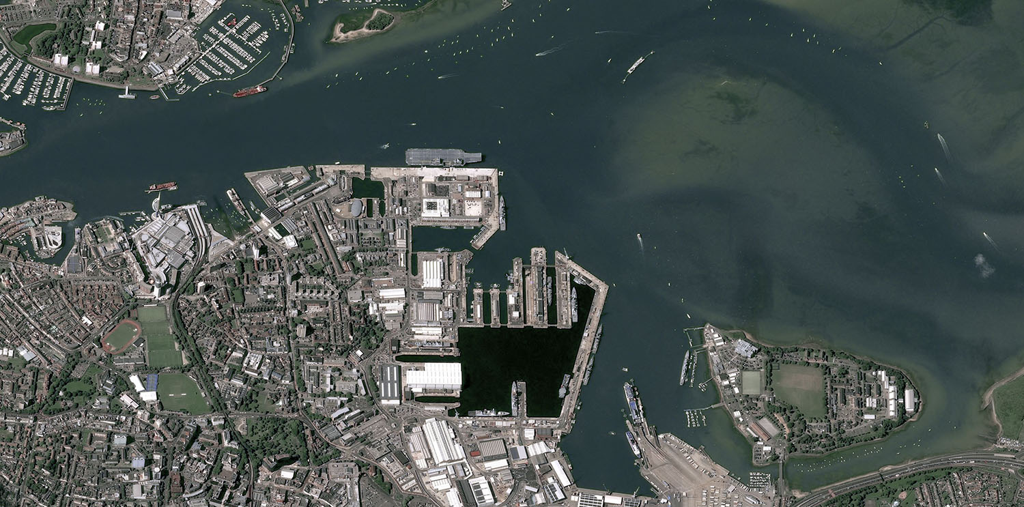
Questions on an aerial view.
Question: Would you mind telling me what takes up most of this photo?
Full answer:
What you mostly see from above here is water.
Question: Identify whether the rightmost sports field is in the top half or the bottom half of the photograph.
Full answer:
It is in the bottom half that the rightmost sports field appears.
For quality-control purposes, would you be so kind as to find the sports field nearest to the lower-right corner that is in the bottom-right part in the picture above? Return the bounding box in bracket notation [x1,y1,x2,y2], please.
[772,364,826,418]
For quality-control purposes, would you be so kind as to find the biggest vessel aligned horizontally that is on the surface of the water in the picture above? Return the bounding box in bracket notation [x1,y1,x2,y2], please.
[406,148,482,167]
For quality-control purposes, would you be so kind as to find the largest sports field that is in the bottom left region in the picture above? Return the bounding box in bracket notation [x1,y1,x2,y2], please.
[158,373,210,414]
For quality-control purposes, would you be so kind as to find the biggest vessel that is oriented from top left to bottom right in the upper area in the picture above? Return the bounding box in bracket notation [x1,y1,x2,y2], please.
[227,190,245,215]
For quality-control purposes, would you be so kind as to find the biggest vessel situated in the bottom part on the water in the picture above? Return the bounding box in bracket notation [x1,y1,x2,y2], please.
[624,383,641,425]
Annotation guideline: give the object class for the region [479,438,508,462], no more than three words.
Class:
building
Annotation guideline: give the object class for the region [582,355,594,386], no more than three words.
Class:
ship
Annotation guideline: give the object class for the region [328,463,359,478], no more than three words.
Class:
building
